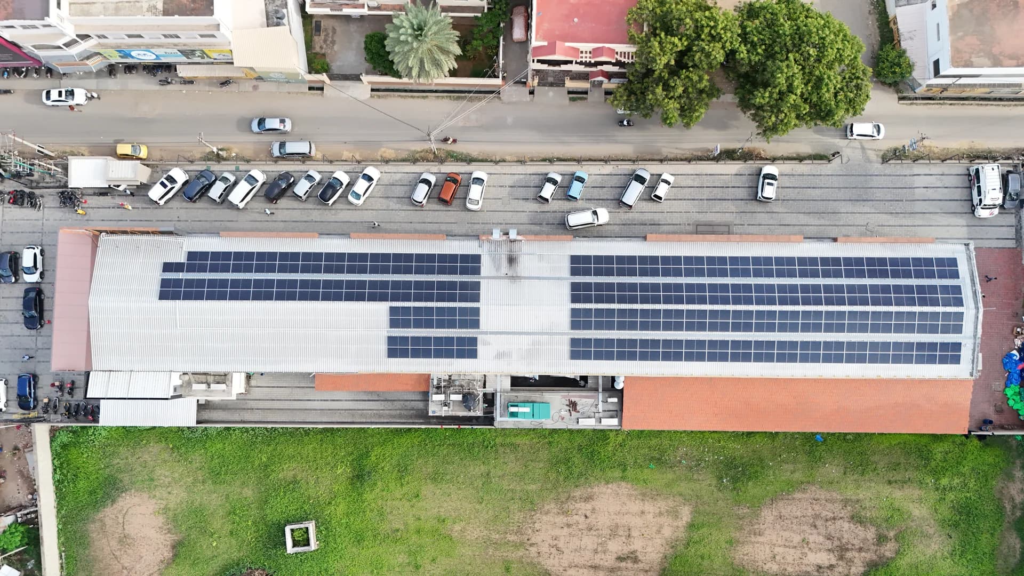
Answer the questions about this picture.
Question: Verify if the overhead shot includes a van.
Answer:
Yes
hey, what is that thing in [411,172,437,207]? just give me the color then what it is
white car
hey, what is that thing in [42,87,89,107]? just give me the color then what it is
white car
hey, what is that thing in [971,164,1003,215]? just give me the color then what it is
white van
